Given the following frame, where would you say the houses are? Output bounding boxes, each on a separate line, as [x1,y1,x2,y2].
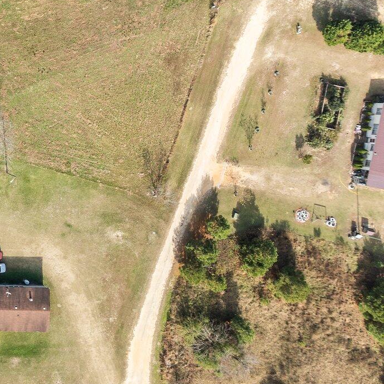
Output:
[0,283,53,333]
[350,111,384,193]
